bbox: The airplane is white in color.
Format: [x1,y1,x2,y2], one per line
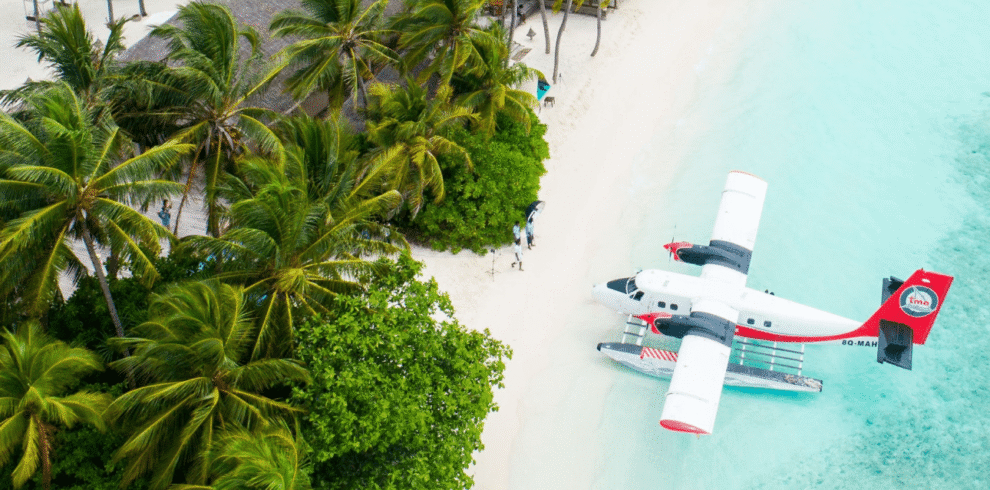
[592,172,952,434]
